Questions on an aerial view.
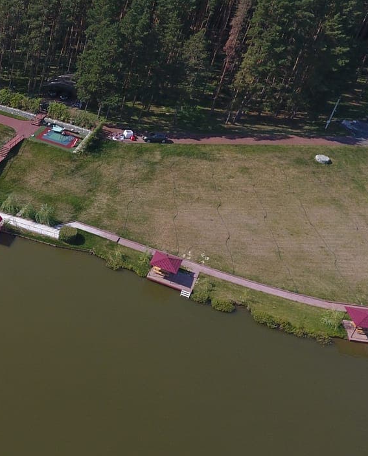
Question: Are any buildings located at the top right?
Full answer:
No, I see no building at the top right.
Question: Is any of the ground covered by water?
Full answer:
Yes, there is water in the image.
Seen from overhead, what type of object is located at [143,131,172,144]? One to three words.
vehicle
